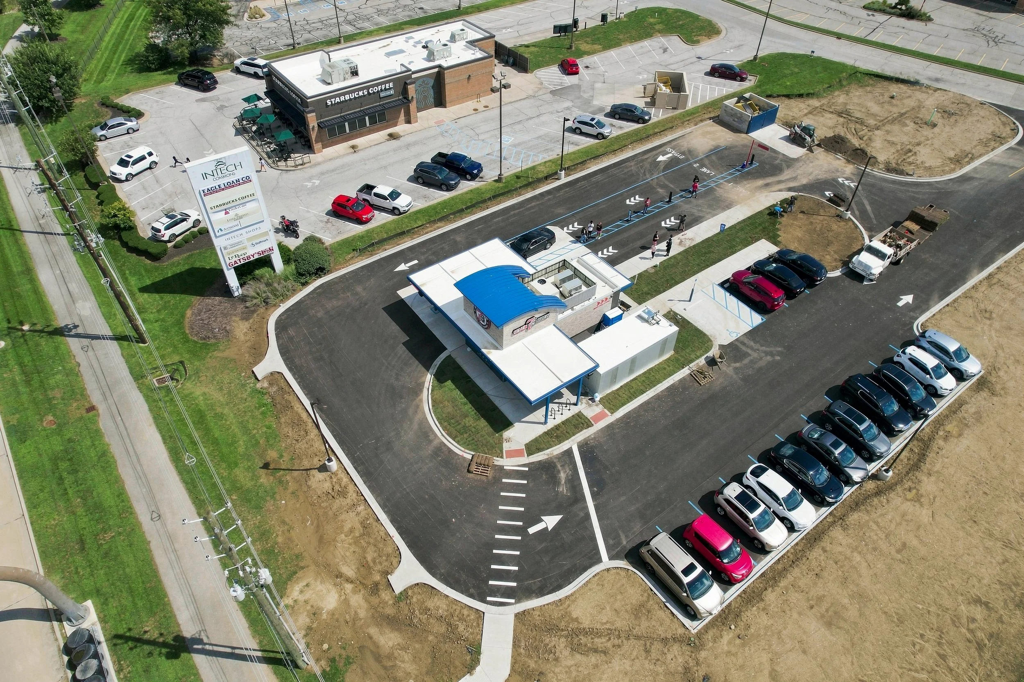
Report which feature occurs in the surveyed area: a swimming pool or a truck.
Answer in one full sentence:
This aerial view contains a truck.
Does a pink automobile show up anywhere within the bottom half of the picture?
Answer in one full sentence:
Yes, a pink automobile appears within the bottom half of the picture.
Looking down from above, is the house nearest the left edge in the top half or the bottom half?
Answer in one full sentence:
The house nearest the left edge is in the top half of the image.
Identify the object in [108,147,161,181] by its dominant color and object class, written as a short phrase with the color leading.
white car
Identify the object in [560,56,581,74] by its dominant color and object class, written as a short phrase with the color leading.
red car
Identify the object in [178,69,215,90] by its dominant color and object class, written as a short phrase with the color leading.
black car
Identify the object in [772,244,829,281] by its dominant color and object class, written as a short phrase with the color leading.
black car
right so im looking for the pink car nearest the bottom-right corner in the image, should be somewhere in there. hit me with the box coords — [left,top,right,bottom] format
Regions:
[681,507,756,582]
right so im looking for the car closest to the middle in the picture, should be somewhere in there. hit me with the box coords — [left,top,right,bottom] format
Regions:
[507,227,557,259]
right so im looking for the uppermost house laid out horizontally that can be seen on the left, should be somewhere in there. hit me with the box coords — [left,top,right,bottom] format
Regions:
[264,19,494,151]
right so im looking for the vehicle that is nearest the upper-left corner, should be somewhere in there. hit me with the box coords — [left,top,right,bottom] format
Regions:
[89,117,140,140]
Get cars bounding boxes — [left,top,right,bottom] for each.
[144,208,202,242]
[636,524,726,619]
[728,269,788,311]
[412,160,460,190]
[817,394,895,459]
[752,255,811,295]
[772,244,829,281]
[837,371,916,435]
[89,117,140,140]
[864,357,939,416]
[108,147,161,181]
[765,434,847,504]
[329,192,376,223]
[681,507,756,582]
[887,340,958,394]
[739,455,820,528]
[791,416,871,482]
[708,474,789,551]
[507,227,557,259]
[234,57,270,76]
[571,113,613,139]
[708,62,749,81]
[178,69,215,90]
[560,56,581,74]
[609,102,653,123]
[912,324,983,378]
